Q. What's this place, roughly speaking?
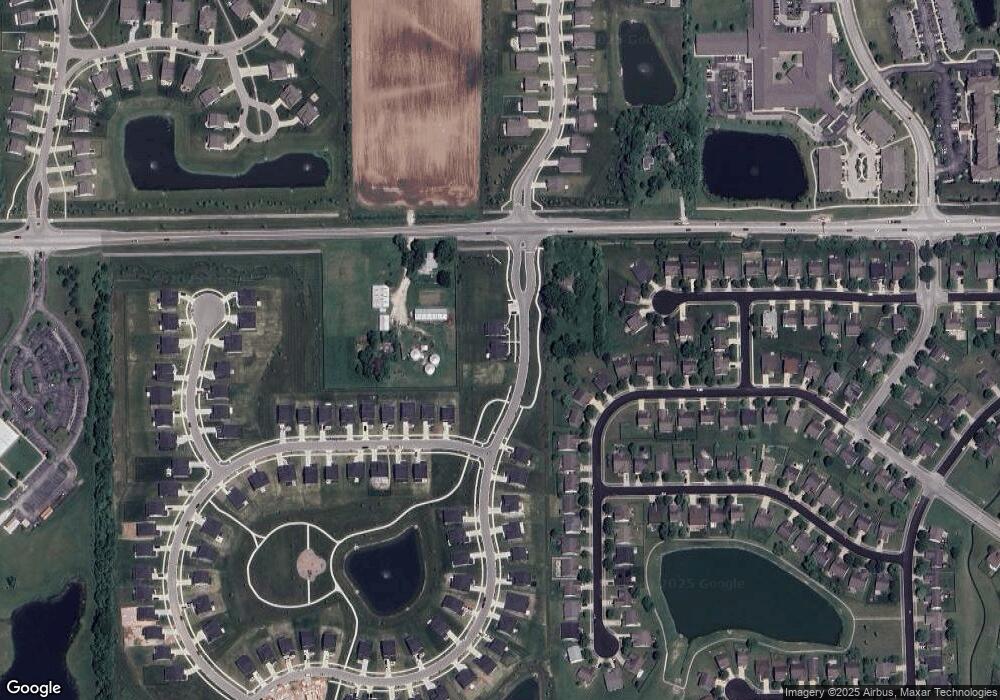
residential area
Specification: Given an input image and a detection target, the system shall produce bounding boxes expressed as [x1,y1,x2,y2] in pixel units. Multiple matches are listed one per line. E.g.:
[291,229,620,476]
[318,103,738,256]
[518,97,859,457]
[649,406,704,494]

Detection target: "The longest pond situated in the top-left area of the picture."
[123,113,331,191]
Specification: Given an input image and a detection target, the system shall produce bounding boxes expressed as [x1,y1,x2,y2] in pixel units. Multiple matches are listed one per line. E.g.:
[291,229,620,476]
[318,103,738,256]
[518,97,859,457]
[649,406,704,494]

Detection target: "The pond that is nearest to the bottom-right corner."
[659,547,844,645]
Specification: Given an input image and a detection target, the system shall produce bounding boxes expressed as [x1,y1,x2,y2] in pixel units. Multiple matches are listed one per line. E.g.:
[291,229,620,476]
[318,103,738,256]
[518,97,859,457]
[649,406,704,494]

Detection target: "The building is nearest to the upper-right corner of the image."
[933,0,967,51]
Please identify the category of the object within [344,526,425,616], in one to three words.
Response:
pond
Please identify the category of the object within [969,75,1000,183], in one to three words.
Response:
building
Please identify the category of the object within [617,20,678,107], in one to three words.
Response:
pond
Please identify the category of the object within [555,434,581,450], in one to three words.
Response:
house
